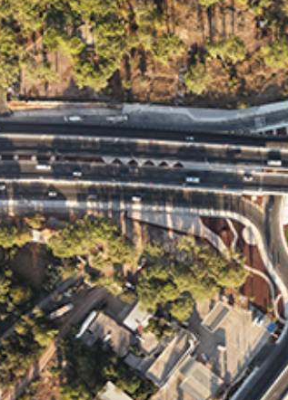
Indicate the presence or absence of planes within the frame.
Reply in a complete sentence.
No, no plane is visible in the view.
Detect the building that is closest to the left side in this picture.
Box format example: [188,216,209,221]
[85,333,113,359]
